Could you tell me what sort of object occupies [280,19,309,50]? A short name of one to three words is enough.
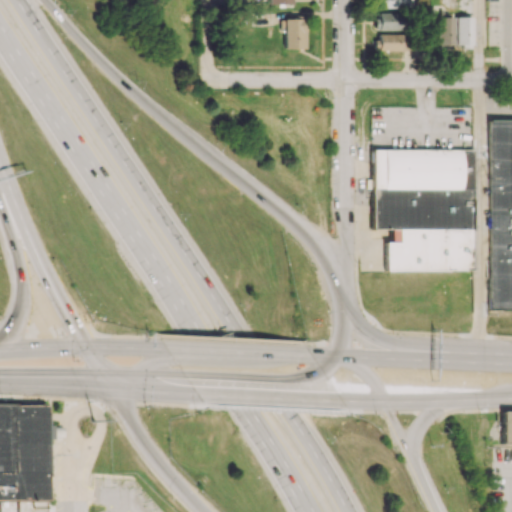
house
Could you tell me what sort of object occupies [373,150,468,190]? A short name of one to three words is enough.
building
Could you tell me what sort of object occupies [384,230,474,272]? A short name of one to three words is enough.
building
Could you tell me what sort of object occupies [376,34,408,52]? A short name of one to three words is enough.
house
